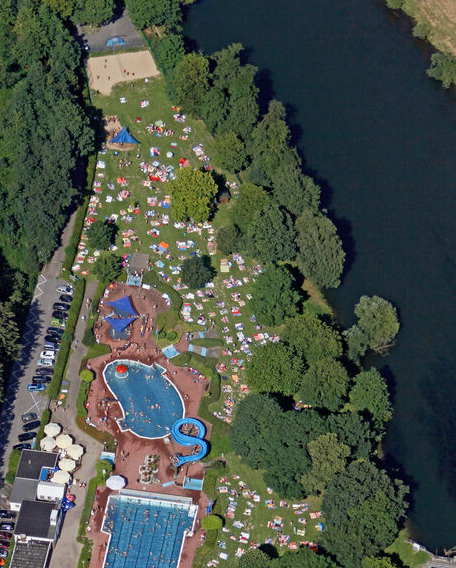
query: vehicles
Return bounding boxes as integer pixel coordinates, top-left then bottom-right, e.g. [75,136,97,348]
[59,294,73,302]
[36,358,55,367]
[47,327,64,335]
[0,521,15,530]
[17,431,37,442]
[22,412,37,422]
[0,509,15,518]
[35,367,55,376]
[13,441,32,451]
[33,375,52,383]
[0,531,12,540]
[53,301,72,311]
[56,285,74,295]
[0,547,9,557]
[22,420,41,431]
[40,350,56,358]
[29,383,44,391]
[44,341,60,350]
[52,310,68,319]
[44,334,62,343]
